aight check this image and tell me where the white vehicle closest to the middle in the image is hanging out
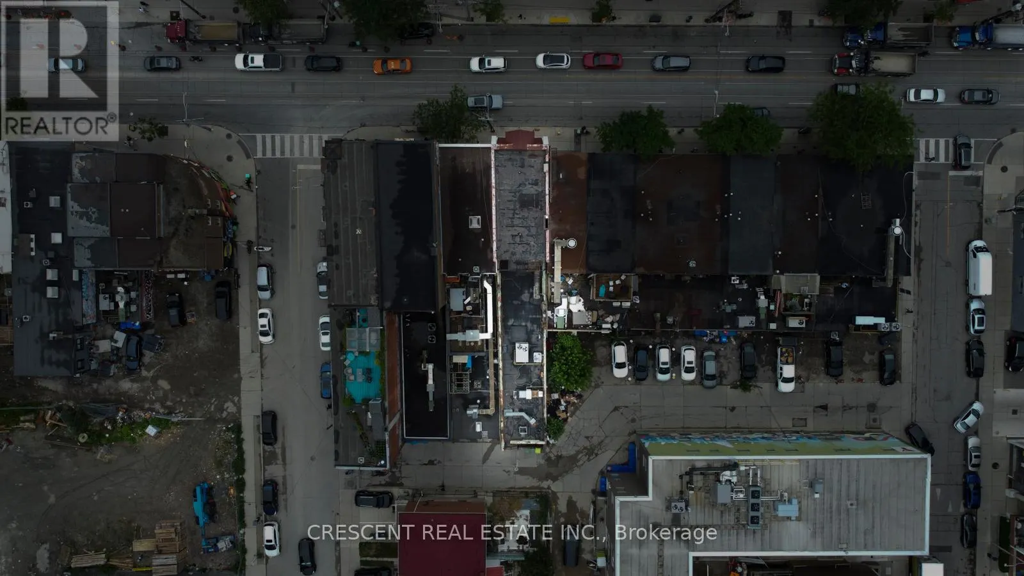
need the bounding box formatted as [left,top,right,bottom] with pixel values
[611,341,628,378]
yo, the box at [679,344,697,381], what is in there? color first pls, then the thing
white car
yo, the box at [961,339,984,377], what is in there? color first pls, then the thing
black car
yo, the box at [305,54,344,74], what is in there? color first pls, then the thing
black car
